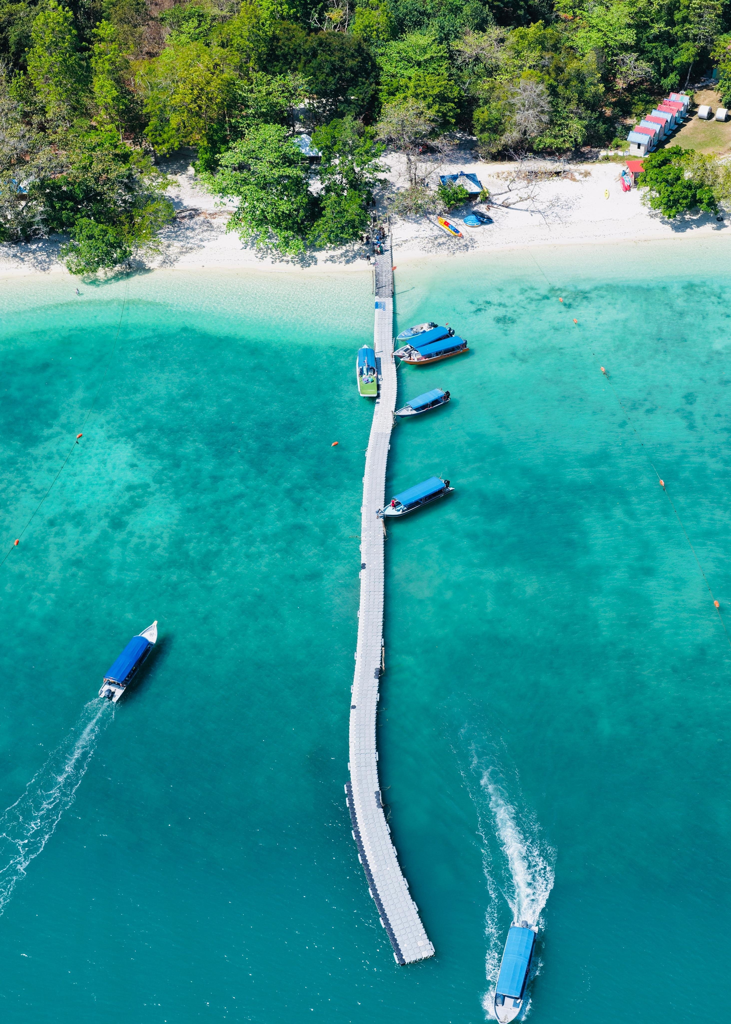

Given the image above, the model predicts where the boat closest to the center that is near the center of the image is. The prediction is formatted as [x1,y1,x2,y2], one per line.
[380,474,458,523]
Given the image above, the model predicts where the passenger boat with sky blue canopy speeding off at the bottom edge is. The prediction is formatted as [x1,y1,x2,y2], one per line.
[494,919,539,1024]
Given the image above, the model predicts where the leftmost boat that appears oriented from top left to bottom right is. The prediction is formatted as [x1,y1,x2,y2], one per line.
[437,215,463,234]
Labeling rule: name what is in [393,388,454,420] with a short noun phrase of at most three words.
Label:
boat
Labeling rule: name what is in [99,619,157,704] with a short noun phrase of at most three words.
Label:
boat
